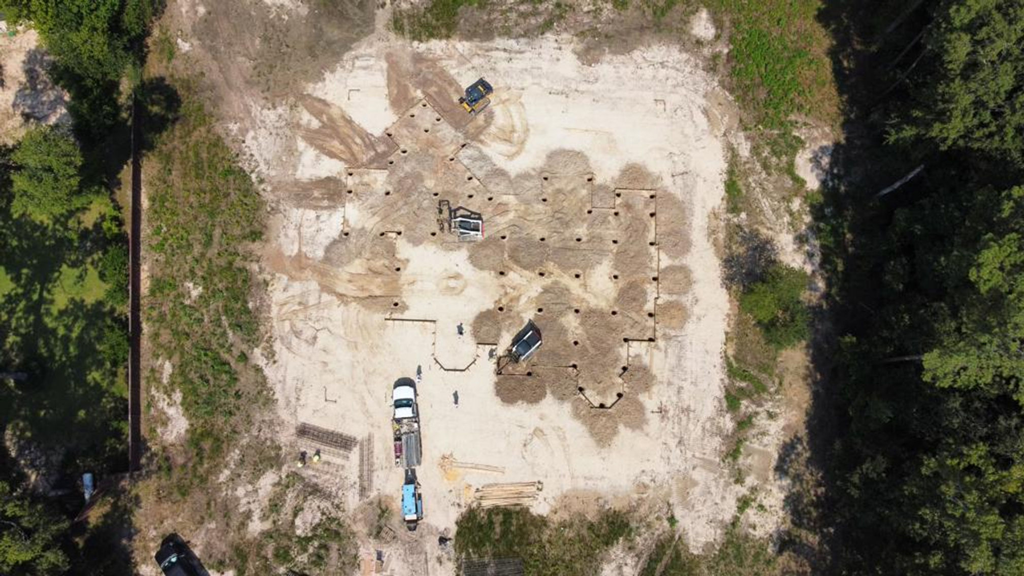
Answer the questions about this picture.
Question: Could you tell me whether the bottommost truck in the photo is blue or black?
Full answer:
The bottommost truck looks black in the image.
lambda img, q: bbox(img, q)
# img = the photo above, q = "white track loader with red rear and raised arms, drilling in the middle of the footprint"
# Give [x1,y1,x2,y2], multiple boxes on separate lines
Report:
[439,217,486,237]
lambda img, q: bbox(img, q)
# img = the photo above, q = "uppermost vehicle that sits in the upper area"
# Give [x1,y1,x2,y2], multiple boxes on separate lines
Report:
[457,79,492,117]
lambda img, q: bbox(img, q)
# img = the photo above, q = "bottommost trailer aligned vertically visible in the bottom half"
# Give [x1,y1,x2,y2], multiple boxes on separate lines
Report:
[401,468,424,530]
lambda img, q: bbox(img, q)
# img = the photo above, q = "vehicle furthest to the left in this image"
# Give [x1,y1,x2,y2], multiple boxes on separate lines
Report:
[161,538,209,576]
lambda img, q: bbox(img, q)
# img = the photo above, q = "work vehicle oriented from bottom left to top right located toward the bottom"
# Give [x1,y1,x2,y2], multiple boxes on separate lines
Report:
[497,330,542,372]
